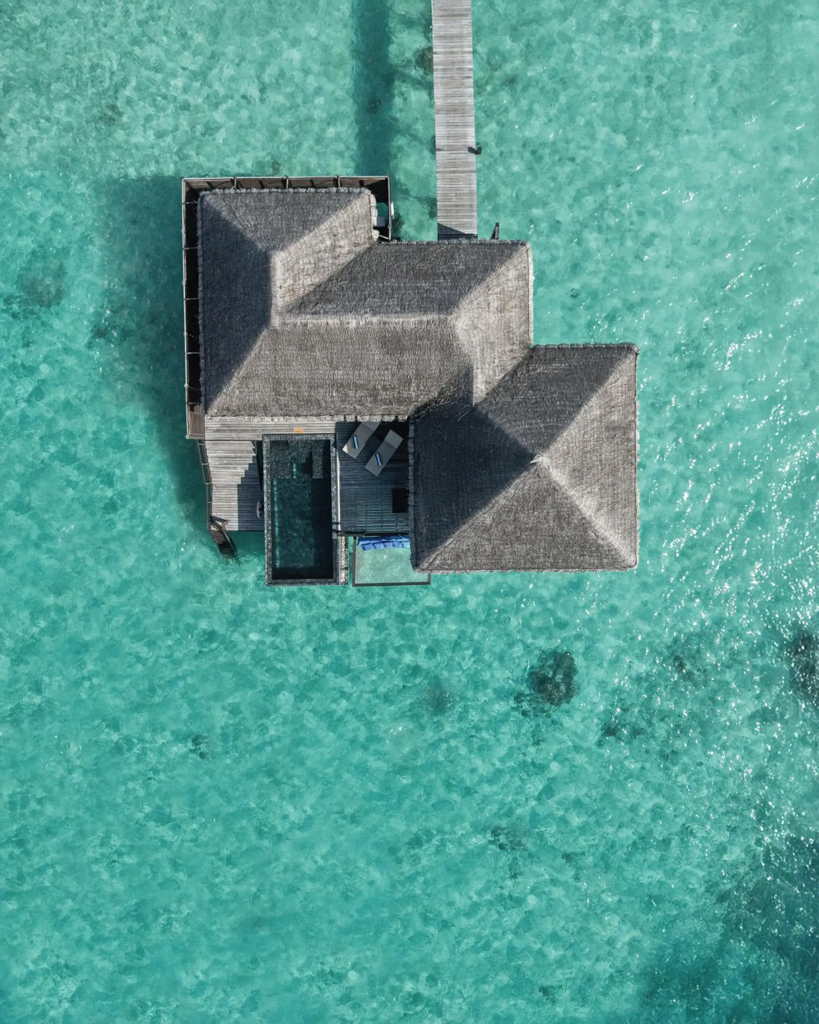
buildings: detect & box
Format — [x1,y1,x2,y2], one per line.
[193,186,642,573]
